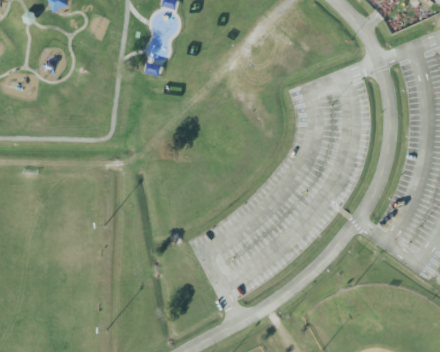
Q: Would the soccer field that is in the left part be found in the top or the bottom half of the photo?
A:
bottom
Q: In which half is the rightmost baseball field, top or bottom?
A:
bottom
